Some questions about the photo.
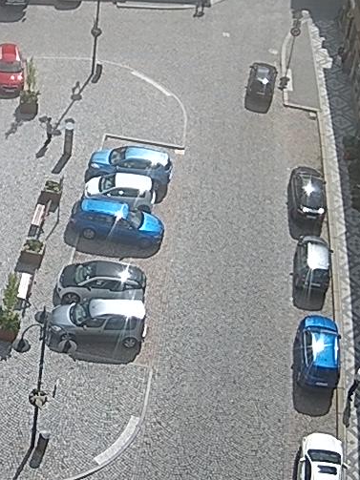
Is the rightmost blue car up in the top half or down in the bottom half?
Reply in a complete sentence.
The rightmost blue car sits in the bottom half of the picture.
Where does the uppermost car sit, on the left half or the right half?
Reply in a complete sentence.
The uppermost car is on the left side of the image.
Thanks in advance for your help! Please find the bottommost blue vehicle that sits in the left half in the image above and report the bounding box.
[70,198,168,245]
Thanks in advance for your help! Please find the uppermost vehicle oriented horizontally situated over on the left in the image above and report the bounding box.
[89,146,173,185]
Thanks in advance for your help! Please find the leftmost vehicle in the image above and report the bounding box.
[0,45,25,90]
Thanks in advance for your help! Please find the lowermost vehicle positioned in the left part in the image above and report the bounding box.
[50,303,149,362]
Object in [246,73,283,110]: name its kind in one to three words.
car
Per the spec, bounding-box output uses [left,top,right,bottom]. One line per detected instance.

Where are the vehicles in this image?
[290,174,335,228]
[50,303,149,362]
[57,261,150,308]
[291,236,342,297]
[0,45,25,90]
[246,73,283,110]
[89,146,173,185]
[70,198,168,245]
[85,171,160,210]
[294,314,350,387]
